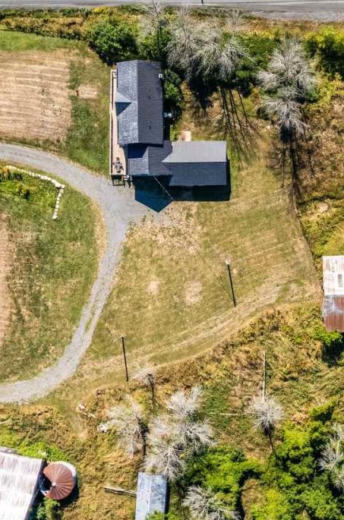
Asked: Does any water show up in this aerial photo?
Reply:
No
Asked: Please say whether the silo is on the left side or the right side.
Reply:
left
